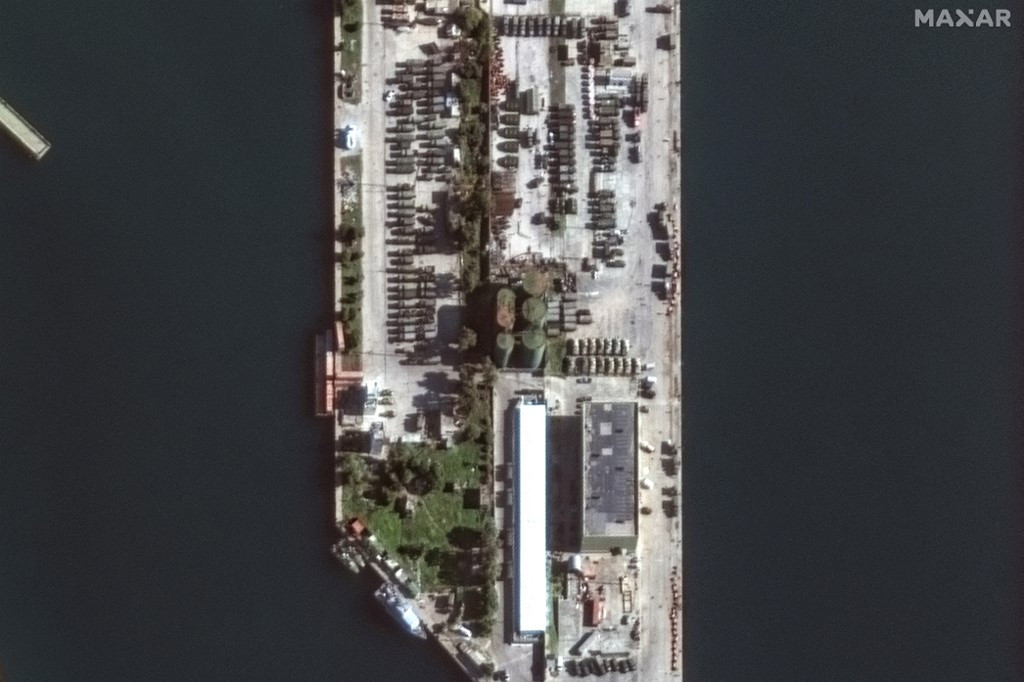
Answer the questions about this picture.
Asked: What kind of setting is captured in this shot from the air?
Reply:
port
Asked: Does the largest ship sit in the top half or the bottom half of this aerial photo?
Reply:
bottom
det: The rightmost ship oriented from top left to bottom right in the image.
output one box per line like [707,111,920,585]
[374,581,428,641]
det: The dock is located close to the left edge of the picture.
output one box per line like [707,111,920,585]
[0,99,50,161]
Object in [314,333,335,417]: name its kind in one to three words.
pier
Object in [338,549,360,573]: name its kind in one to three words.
boat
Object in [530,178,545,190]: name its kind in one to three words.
vehicle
